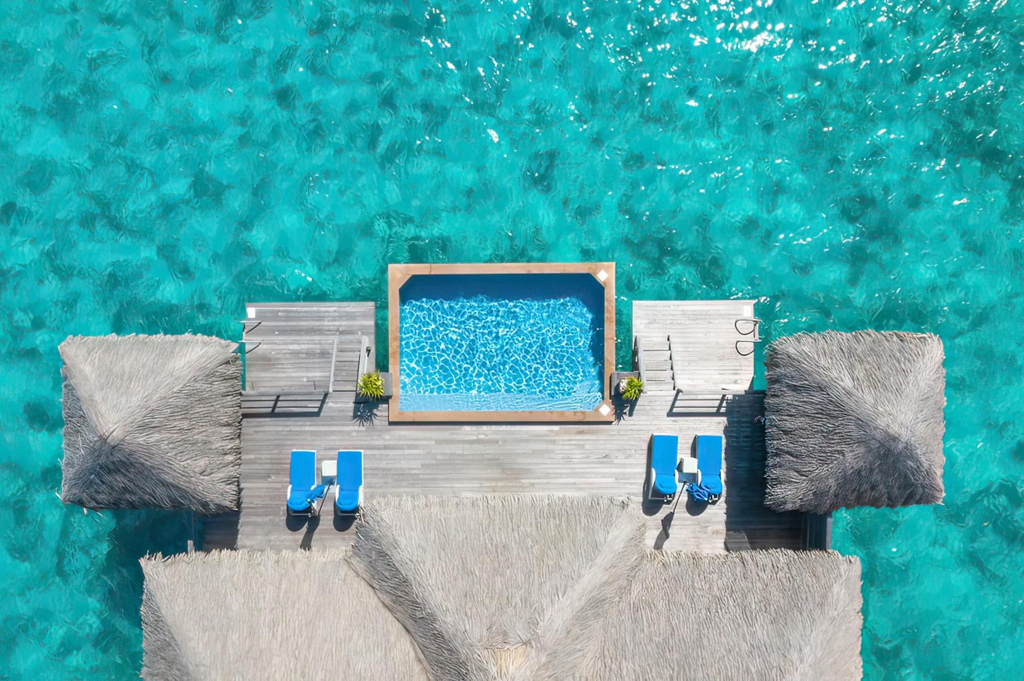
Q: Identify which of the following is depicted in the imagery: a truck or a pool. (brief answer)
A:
pool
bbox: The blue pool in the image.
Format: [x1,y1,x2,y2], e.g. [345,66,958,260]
[388,263,615,421]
